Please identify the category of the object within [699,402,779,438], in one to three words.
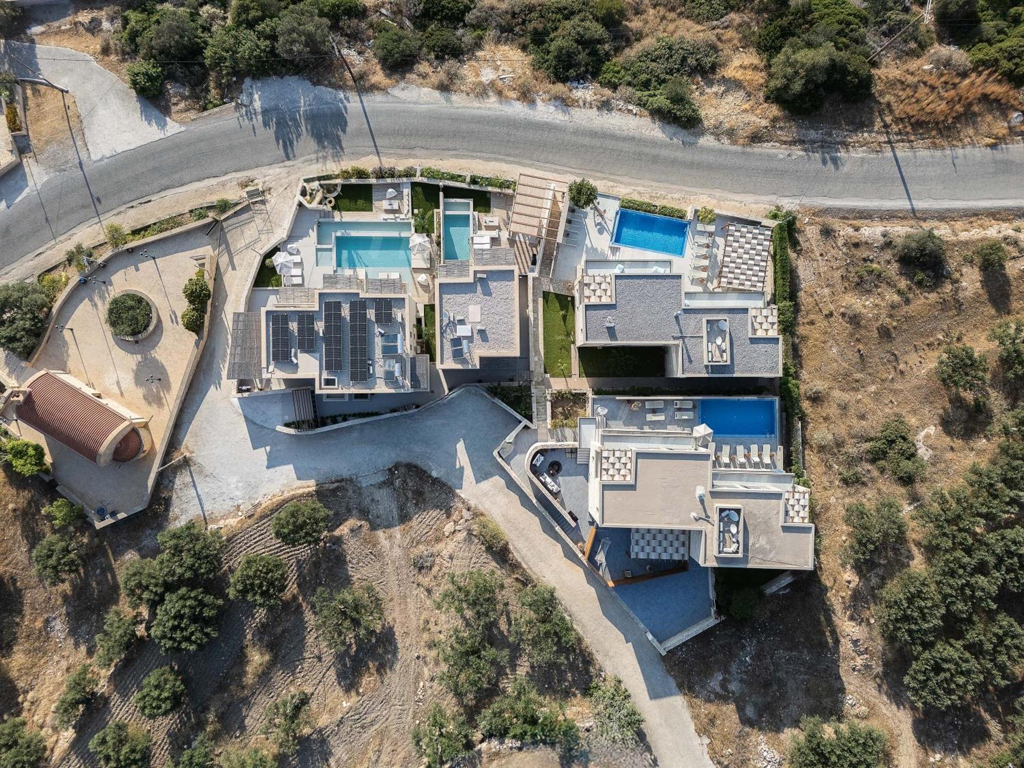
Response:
swimming pool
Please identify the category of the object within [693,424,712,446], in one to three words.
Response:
umbrella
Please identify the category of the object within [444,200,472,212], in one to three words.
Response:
swimming pool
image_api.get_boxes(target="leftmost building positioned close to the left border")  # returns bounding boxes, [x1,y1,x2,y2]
[0,367,147,465]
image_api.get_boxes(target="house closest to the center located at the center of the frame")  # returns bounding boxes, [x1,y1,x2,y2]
[435,265,520,371]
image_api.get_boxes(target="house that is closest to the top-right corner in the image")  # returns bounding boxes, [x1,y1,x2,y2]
[576,260,782,378]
